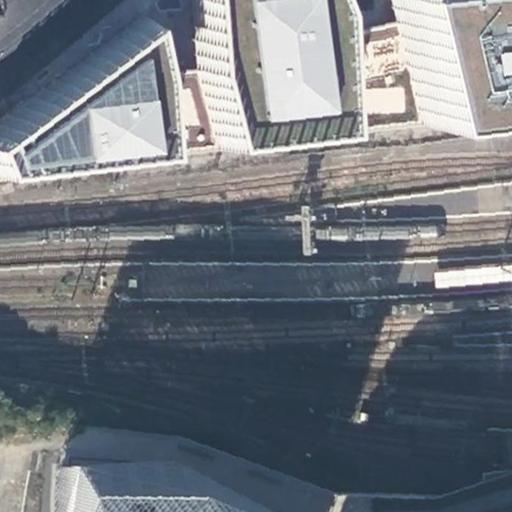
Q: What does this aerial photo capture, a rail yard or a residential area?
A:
rail yard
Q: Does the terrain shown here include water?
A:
No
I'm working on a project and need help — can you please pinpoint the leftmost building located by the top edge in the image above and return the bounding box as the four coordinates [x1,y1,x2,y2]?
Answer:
[0,20,188,184]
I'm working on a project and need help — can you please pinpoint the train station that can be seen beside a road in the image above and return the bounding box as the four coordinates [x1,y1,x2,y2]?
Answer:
[0,181,512,437]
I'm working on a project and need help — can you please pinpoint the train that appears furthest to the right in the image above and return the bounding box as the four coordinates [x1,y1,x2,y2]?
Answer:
[312,224,446,239]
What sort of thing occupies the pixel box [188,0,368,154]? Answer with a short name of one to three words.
building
